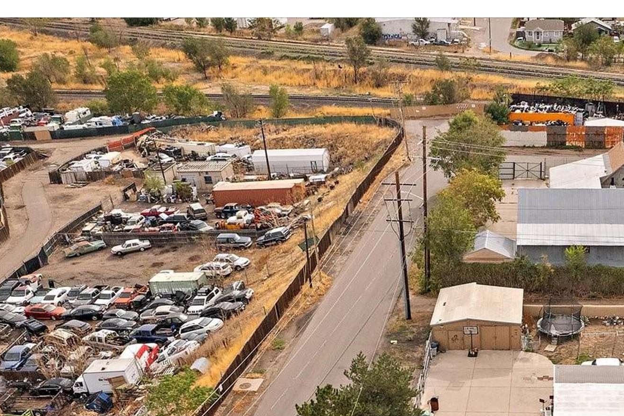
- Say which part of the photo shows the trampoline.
bottom right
